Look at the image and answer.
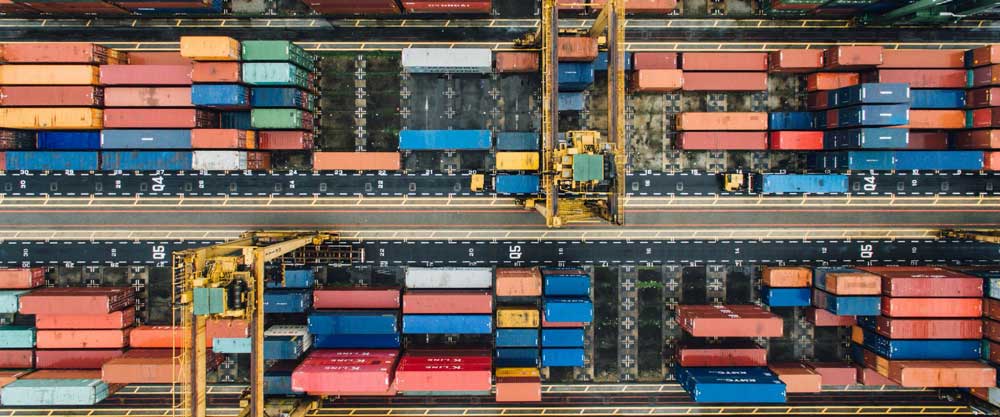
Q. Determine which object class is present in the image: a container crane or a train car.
container crane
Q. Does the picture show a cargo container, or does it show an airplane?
cargo container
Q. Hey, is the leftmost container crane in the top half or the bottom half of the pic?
bottom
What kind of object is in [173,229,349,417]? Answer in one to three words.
container crane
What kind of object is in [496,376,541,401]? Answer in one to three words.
shipping container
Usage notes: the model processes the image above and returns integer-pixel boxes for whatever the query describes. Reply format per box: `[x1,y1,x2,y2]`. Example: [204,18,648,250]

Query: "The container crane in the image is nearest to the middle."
[509,0,622,229]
